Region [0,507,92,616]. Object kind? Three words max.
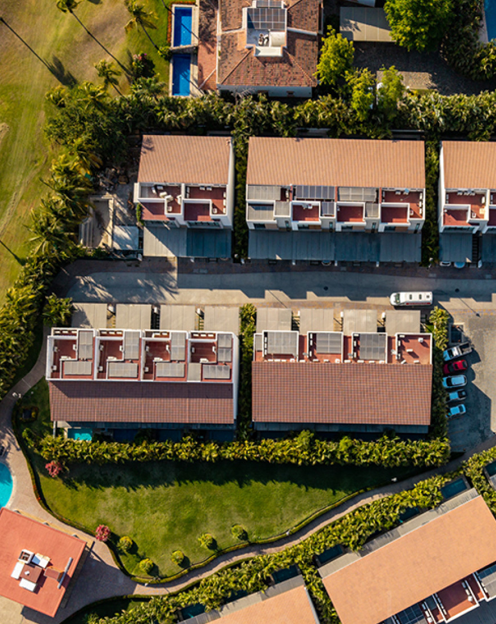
building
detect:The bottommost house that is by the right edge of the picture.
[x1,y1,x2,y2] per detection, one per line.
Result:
[319,488,496,624]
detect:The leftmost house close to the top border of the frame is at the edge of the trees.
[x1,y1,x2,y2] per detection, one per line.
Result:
[216,0,320,102]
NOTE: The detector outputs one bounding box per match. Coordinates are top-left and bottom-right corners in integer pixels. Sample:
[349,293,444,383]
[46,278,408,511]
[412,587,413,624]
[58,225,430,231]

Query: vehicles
[453,262,464,267]
[443,342,472,358]
[440,241,451,267]
[392,292,432,306]
[442,359,468,374]
[444,403,469,418]
[448,388,471,402]
[442,375,467,387]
